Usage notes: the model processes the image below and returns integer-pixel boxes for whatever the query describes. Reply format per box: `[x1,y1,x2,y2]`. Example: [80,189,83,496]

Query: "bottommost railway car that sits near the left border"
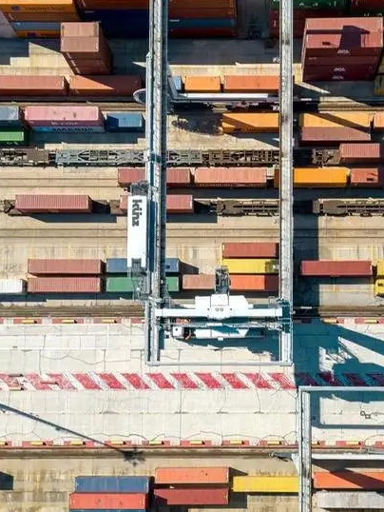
[2,199,109,214]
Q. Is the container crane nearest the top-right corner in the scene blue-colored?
No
